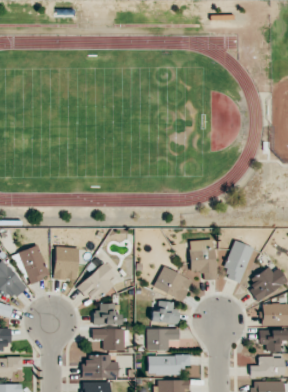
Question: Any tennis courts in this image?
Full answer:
No, the scene contains no tennis court.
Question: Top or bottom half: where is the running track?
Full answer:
Seen from above, the running track lies in the top half of the view.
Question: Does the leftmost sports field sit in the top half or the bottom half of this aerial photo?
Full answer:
The leftmost sports field sits in the top half of the picture.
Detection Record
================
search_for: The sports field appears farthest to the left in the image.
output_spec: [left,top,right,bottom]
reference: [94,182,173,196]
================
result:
[0,50,248,192]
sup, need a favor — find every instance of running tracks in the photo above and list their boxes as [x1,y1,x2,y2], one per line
[0,35,263,207]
